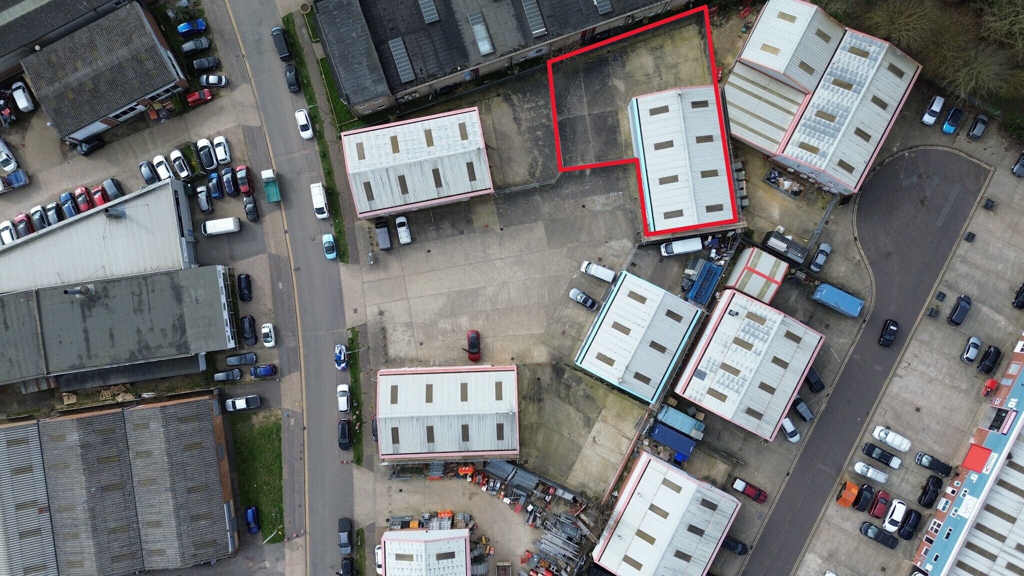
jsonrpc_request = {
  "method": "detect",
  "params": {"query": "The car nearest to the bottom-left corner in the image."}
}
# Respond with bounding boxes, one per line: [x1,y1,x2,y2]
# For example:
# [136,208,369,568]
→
[244,505,261,533]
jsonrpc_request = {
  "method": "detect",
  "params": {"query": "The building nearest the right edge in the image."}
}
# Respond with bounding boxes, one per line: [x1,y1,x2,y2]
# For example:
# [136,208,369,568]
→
[903,342,1024,576]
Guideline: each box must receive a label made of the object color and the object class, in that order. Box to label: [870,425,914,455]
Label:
white truck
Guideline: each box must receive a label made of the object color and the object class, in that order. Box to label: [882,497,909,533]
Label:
white car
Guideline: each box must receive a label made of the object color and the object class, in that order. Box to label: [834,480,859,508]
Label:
orange vehicle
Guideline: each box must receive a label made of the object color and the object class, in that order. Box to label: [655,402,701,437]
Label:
blue shipping container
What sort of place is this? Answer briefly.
industrial area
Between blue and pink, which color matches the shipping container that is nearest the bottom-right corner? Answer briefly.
blue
